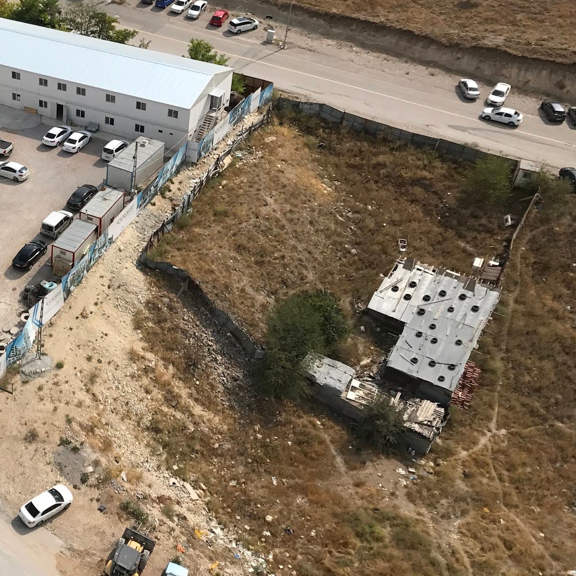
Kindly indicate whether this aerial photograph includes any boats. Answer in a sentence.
No, the photo shows no boat.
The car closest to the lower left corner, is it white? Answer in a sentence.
Yes, white is the color of the car closest to the lower left corner.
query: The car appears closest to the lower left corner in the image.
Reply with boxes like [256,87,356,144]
[19,485,73,527]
